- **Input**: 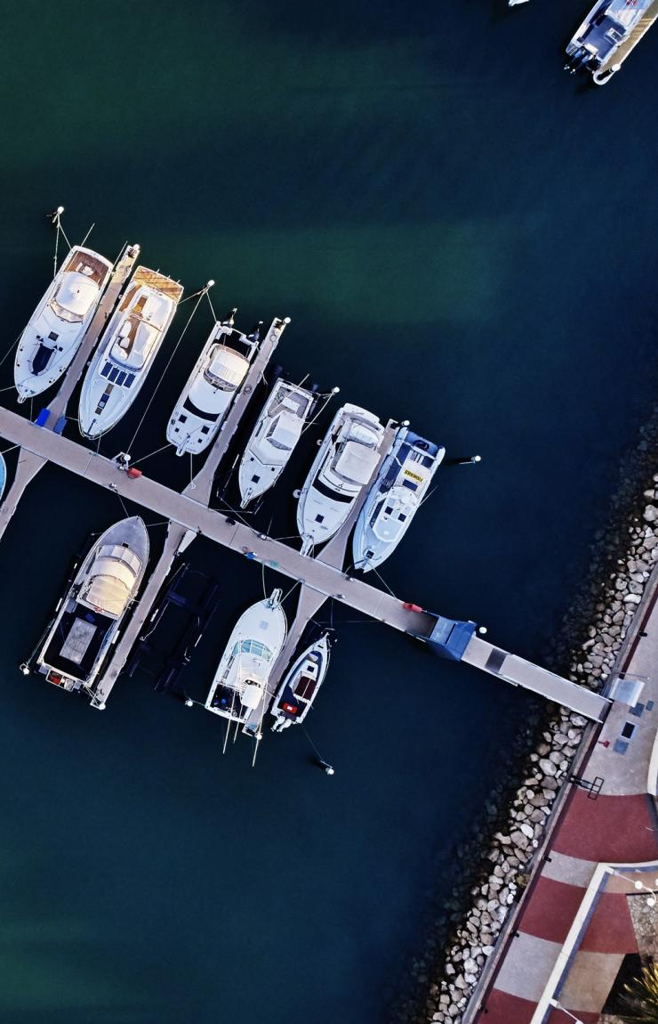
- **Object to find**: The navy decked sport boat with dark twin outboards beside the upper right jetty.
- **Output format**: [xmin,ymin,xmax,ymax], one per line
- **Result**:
[562,0,655,73]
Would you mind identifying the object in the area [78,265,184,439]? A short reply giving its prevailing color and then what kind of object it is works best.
white boat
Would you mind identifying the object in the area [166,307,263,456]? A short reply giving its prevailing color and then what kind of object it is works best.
white boat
